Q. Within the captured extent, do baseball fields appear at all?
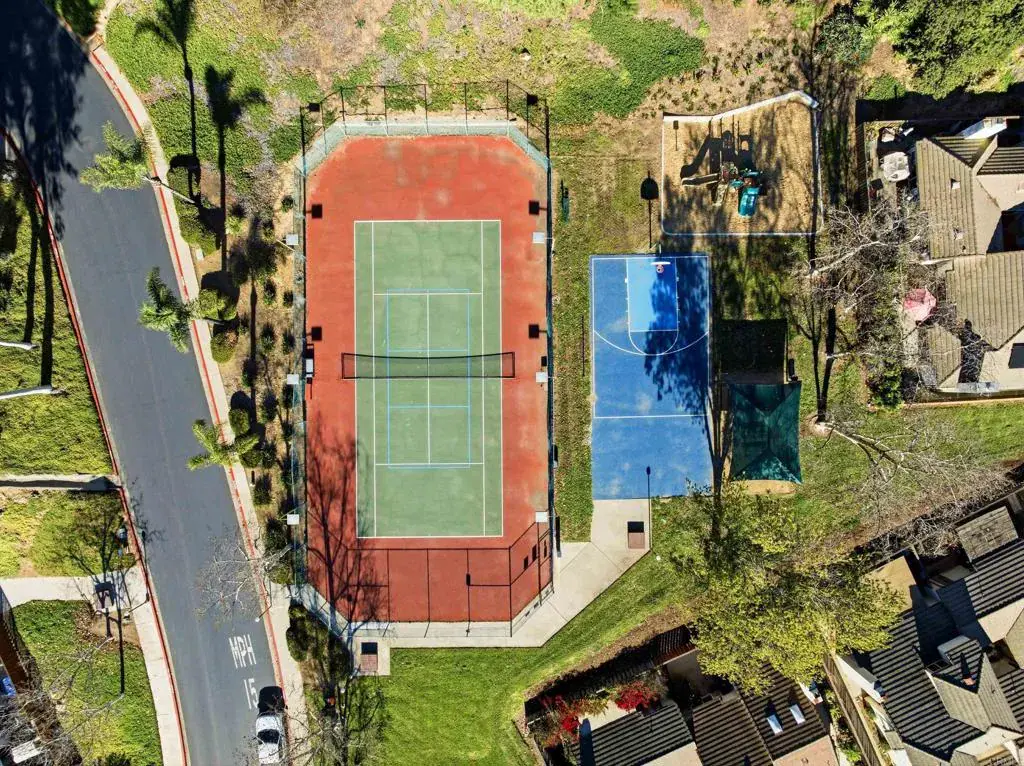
No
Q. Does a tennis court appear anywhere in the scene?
Yes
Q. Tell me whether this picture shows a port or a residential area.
residential area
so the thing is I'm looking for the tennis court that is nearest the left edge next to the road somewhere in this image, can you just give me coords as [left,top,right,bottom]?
[307,136,551,623]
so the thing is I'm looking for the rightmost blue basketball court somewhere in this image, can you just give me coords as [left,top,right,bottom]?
[590,254,713,500]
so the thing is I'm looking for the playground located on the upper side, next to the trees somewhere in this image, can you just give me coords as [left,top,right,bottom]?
[661,90,823,236]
